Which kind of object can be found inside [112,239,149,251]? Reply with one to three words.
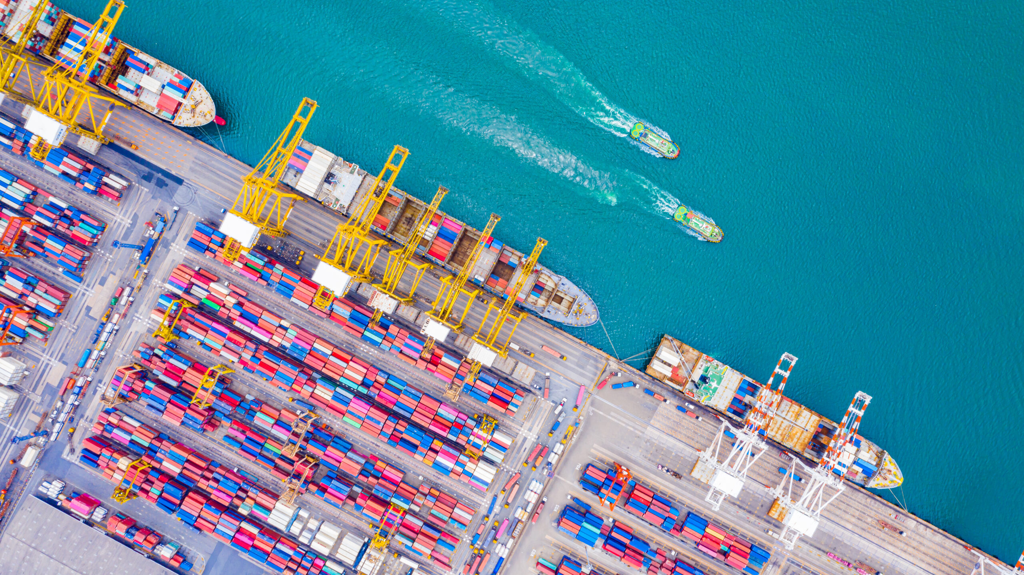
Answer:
vehicle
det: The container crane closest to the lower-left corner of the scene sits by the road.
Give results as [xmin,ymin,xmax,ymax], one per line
[111,456,153,502]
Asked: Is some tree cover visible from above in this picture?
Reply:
No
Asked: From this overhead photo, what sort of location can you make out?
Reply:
port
